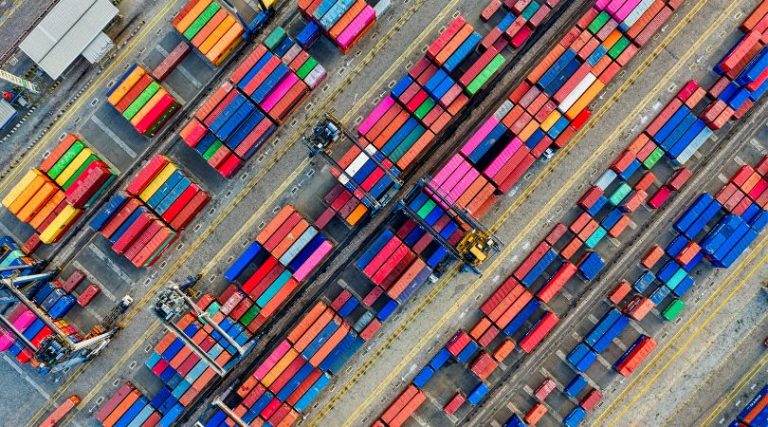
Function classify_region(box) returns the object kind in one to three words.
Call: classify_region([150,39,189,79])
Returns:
shipping container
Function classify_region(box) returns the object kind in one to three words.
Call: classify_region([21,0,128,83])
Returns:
building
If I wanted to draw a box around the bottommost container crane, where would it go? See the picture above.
[193,374,251,427]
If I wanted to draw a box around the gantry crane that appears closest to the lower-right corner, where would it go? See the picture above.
[398,176,502,275]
